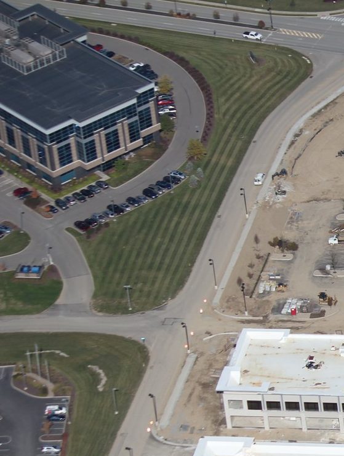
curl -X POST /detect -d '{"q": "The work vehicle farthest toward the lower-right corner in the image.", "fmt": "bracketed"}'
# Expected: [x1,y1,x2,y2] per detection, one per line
[315,291,332,305]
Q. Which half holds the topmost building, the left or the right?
left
